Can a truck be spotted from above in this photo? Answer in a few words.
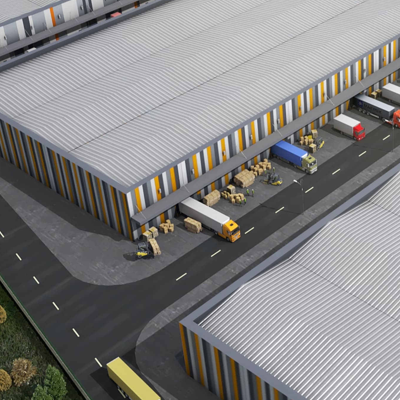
Yes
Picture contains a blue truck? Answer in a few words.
Yes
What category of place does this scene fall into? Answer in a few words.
industrial area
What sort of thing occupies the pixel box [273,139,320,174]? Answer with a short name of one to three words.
truck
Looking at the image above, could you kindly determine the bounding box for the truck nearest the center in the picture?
[181,195,242,241]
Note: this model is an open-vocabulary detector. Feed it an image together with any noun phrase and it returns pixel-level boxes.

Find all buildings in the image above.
[0,0,400,242]
[179,163,400,400]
